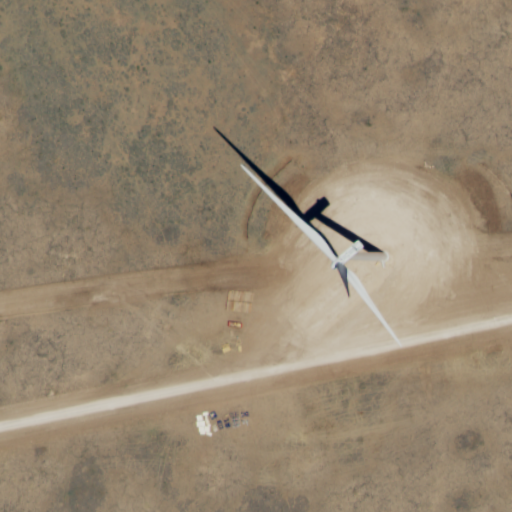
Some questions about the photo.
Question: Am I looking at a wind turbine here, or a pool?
wind turbine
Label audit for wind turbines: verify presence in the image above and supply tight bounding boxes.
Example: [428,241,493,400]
[242,165,400,344]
